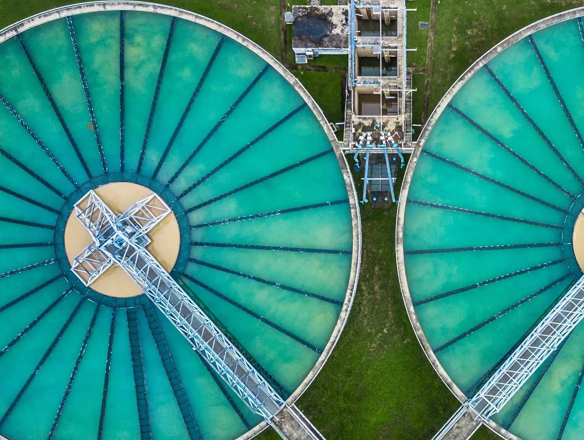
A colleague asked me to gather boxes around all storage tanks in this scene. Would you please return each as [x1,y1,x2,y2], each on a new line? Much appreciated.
[395,6,584,440]
[0,0,362,440]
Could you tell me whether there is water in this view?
Yes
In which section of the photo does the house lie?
top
